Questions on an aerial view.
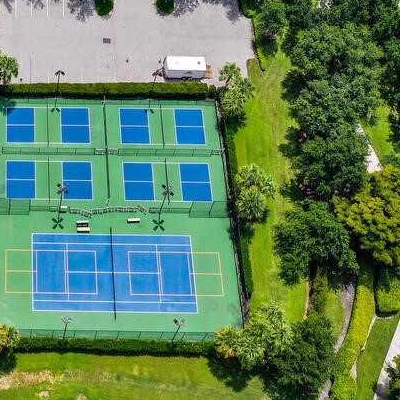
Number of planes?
0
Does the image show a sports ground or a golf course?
sports ground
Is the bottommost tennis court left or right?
left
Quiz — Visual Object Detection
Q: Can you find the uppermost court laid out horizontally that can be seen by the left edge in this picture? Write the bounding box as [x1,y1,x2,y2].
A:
[0,100,107,151]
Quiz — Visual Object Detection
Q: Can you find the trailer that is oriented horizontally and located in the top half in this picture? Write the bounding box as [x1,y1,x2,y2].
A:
[157,56,214,81]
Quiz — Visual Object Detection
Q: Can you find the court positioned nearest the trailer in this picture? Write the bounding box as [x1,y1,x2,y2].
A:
[104,101,222,153]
